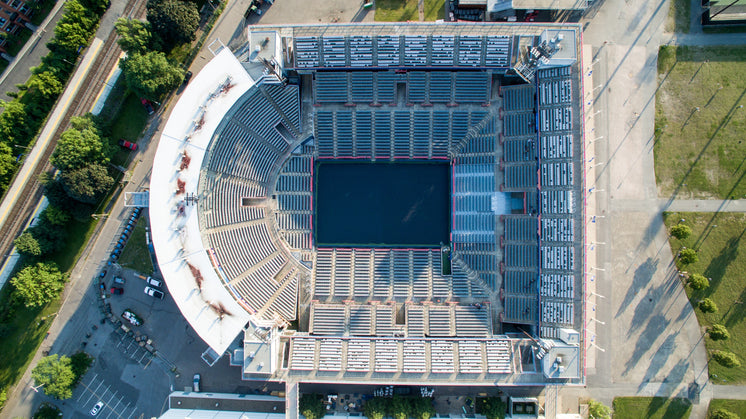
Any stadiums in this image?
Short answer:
Yes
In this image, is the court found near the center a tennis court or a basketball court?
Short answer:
tennis court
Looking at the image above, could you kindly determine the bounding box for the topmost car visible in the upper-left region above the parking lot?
[182,67,195,82]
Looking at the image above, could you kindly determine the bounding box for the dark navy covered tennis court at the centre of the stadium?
[313,159,452,249]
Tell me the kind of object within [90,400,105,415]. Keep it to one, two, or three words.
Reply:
car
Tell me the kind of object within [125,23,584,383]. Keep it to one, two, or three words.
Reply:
stadium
